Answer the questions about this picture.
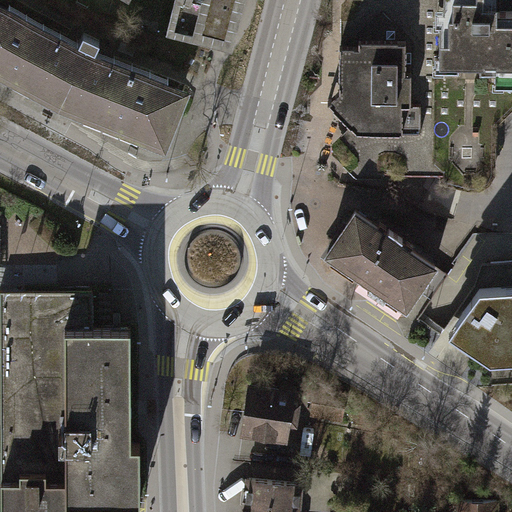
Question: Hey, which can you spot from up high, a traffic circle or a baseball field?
traffic circle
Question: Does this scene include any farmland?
No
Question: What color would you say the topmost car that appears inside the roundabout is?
black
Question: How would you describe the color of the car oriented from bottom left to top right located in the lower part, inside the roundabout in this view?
black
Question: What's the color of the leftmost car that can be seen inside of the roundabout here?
white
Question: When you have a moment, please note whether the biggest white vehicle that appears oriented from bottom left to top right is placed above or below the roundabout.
below it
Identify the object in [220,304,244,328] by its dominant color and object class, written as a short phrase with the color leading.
black car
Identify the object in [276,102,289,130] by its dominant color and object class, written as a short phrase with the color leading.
black vehicle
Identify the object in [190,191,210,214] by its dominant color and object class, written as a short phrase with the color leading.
black car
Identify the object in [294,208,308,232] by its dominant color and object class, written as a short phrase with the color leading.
white vehicle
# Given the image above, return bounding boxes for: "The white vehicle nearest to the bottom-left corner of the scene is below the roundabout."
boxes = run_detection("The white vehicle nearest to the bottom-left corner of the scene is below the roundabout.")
[216,476,246,503]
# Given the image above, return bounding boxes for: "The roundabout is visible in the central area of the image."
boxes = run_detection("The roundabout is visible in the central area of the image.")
[138,188,286,336]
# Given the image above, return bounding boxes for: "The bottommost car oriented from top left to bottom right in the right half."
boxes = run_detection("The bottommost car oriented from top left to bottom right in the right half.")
[304,289,329,310]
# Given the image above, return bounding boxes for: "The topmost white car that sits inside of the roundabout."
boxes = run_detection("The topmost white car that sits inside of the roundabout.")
[255,228,272,248]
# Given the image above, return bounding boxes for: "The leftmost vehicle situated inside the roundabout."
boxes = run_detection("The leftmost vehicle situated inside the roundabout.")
[161,288,182,309]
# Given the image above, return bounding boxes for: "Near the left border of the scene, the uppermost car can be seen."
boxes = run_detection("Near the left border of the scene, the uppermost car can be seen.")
[22,172,47,190]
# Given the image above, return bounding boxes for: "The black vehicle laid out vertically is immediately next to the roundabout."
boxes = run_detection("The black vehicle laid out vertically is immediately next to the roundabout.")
[196,341,210,368]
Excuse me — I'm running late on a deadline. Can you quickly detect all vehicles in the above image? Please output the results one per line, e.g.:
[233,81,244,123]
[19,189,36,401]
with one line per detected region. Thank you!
[161,288,182,309]
[316,149,329,172]
[276,102,289,130]
[100,214,129,237]
[304,289,329,310]
[190,191,210,214]
[228,410,242,436]
[300,424,315,458]
[216,476,246,503]
[22,172,47,190]
[220,304,244,328]
[190,416,202,443]
[255,228,272,248]
[254,304,273,314]
[196,341,210,368]
[294,208,308,232]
